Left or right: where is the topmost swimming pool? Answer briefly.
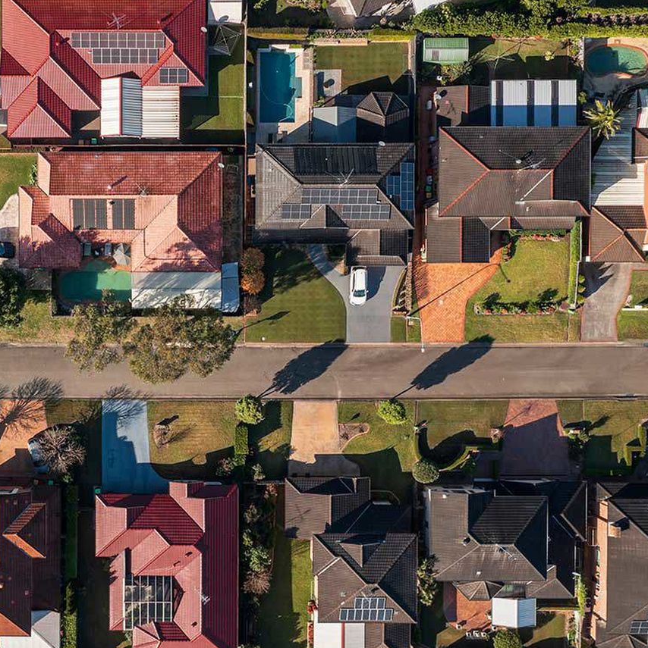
right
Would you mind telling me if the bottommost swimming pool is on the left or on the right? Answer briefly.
left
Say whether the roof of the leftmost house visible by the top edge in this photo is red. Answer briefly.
Yes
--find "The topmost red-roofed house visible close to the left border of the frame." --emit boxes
[0,0,207,140]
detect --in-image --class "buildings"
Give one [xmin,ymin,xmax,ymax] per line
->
[424,477,586,628]
[421,38,469,66]
[591,482,648,648]
[423,79,590,263]
[18,150,223,309]
[283,477,418,648]
[0,0,207,140]
[0,487,62,648]
[95,481,238,648]
[208,0,243,26]
[252,143,416,267]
